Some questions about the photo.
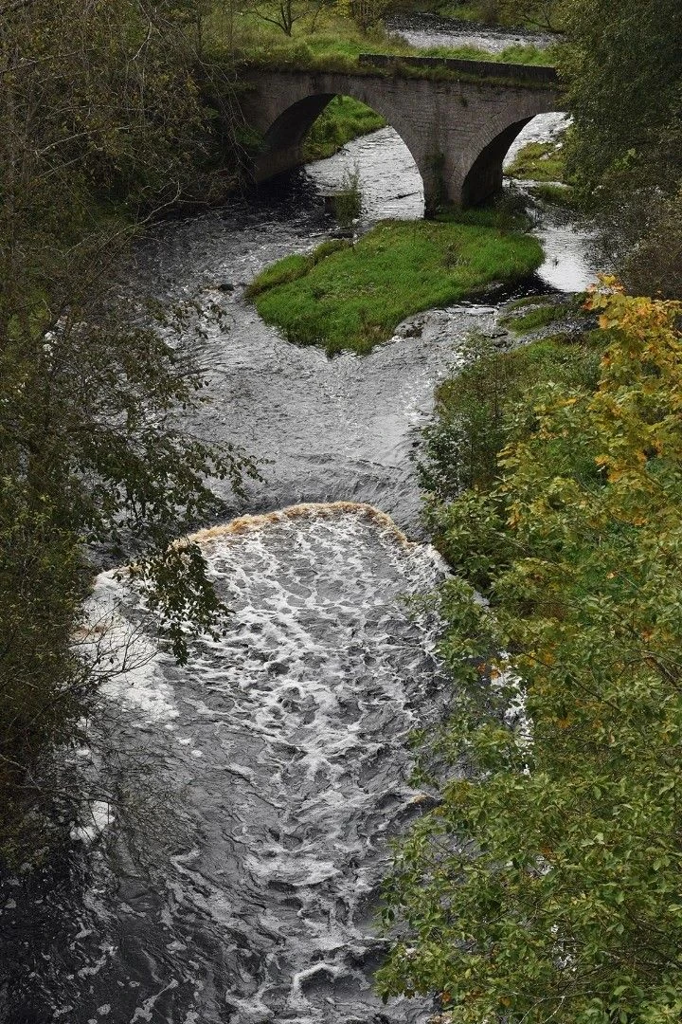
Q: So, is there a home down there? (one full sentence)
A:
No, the frame has no home in it.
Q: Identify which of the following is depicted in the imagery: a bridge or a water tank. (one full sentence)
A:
Of the two, only a bridge appears.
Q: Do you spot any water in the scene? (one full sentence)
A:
Yes, there's water in this view.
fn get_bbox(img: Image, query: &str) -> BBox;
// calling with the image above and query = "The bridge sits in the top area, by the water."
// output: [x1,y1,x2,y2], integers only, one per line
[101,52,681,236]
